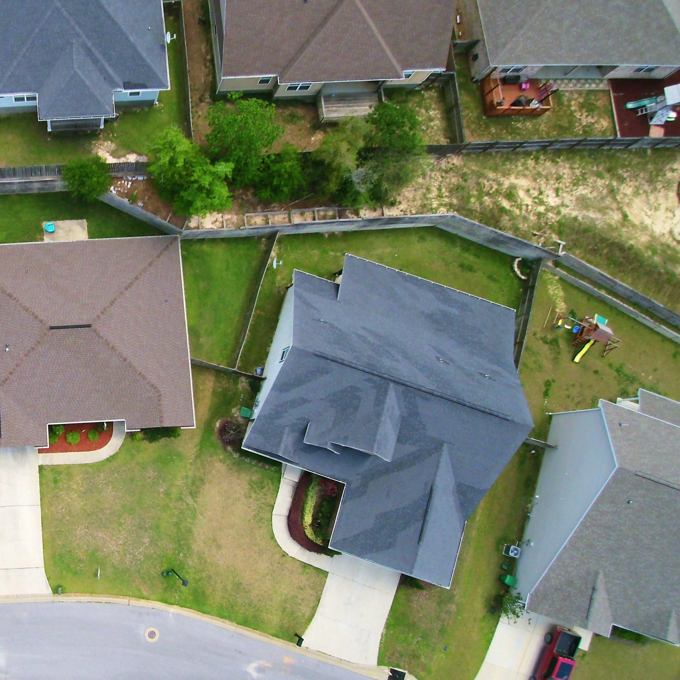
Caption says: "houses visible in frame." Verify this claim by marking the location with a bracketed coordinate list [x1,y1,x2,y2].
[0,0,171,134]
[204,0,458,97]
[237,253,535,591]
[458,0,680,81]
[505,388,680,647]
[0,234,196,451]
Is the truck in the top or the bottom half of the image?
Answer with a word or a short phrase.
bottom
